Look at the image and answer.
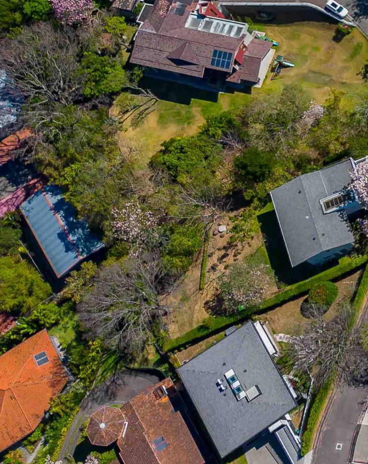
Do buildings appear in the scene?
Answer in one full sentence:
Yes, a building is visible in the scene.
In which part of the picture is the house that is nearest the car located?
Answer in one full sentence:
The house that is nearest the car is in the top part of the image.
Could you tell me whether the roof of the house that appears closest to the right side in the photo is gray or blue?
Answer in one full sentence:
The roof of the house that appears closest to the right side looks gray in the image.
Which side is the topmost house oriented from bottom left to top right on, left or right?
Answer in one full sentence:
You can find the topmost house oriented from bottom left to top right on the left side of the picture.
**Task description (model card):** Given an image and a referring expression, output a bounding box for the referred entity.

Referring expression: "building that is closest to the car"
[130,0,276,83]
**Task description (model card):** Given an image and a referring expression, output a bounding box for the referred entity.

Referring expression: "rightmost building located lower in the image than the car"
[269,156,368,267]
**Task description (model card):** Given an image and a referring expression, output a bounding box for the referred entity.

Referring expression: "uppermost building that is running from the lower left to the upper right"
[0,127,43,163]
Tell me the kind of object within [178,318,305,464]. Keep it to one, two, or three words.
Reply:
house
